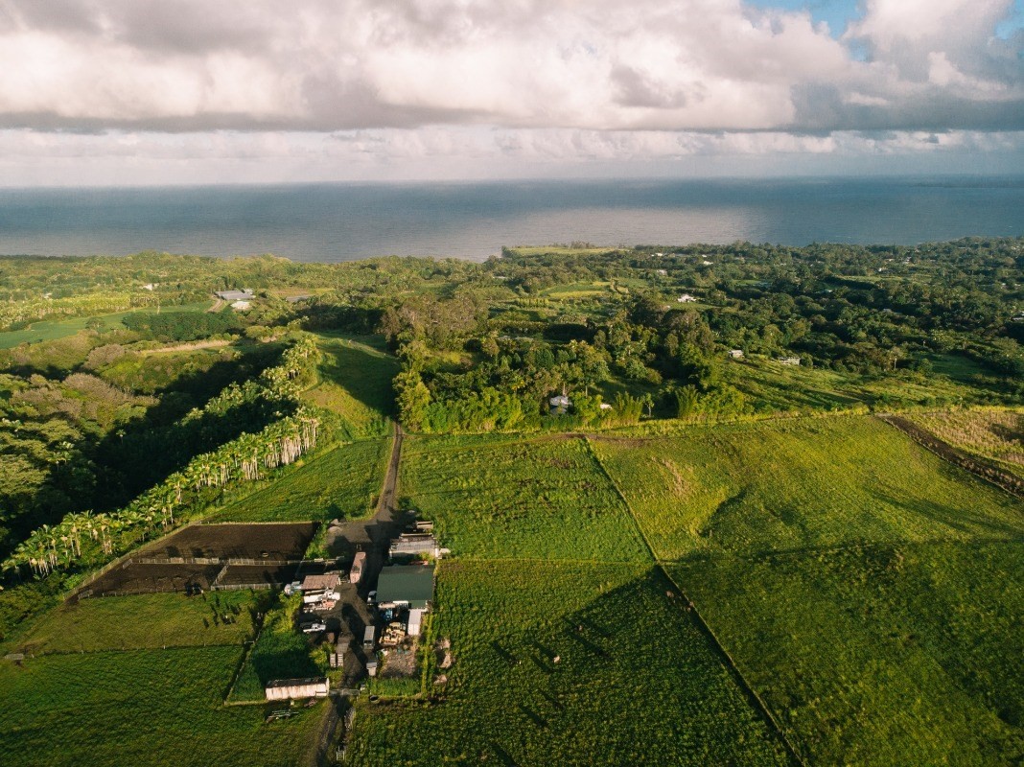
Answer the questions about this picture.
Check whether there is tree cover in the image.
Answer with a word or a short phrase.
Yes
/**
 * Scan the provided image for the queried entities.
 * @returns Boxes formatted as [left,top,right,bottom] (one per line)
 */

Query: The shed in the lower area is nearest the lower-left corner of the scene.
[266,675,331,700]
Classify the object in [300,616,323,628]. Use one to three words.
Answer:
vehicle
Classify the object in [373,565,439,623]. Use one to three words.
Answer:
shed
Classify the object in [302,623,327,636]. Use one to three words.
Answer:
vehicle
